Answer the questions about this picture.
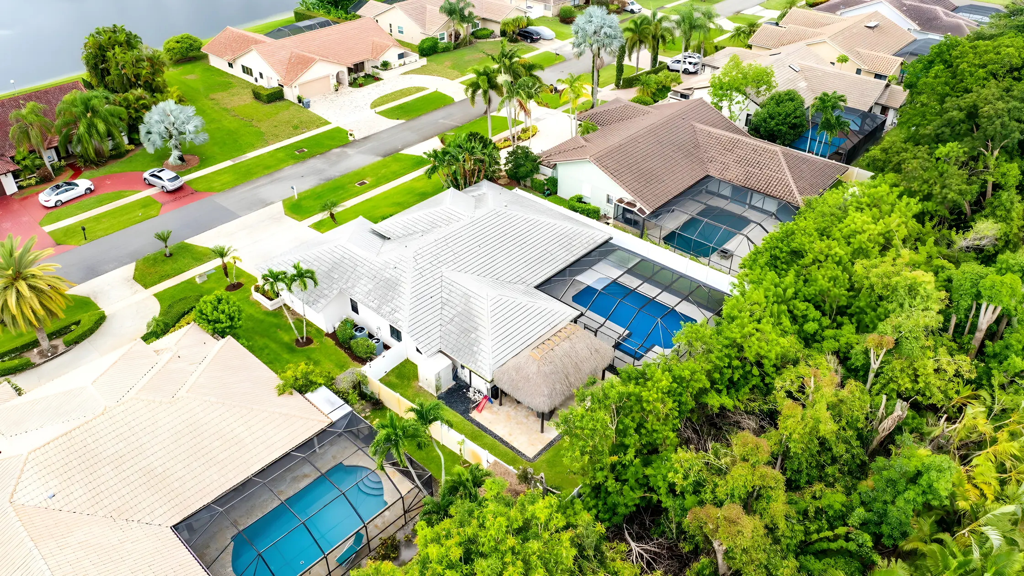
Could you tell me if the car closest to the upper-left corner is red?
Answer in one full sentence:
No, the color of the car closest to the upper-left corner is white.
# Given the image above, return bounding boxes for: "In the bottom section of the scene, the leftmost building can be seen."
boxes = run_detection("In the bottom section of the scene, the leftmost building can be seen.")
[0,322,332,576]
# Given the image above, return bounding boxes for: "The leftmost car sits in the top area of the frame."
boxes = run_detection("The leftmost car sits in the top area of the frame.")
[36,181,92,205]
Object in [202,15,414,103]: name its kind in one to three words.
house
